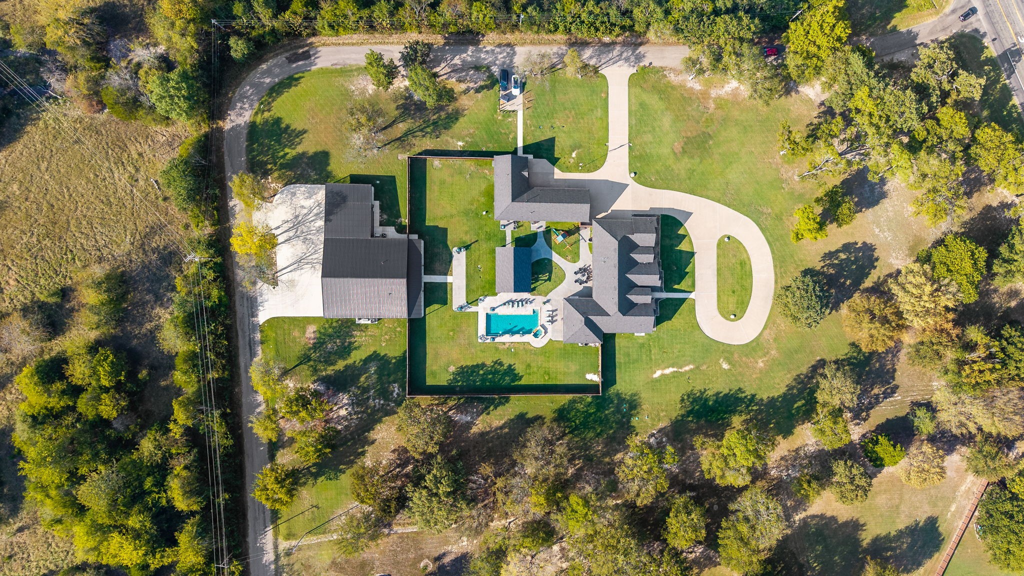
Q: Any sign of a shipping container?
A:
No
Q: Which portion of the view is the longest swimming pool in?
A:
center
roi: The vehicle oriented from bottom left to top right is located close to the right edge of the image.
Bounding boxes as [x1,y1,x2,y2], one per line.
[957,6,978,24]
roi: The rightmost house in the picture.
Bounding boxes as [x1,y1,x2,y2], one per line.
[563,218,660,343]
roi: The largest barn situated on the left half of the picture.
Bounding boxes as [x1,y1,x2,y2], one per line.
[321,184,424,318]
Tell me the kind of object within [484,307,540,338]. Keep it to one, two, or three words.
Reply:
swimming pool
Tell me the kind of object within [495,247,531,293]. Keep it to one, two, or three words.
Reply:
building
